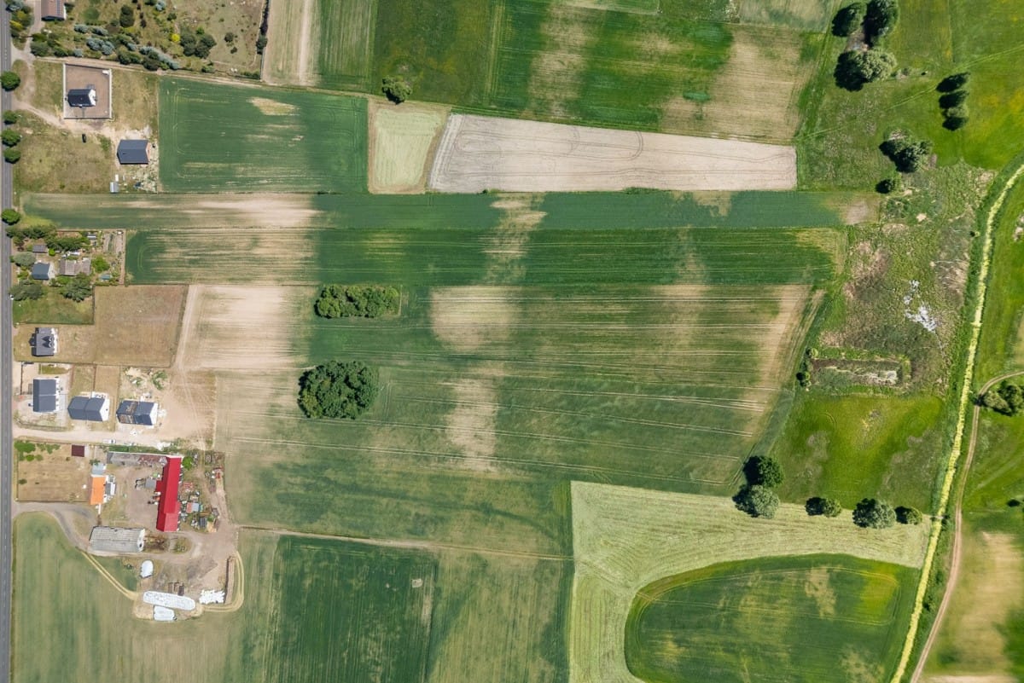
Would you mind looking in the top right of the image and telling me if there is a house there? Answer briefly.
No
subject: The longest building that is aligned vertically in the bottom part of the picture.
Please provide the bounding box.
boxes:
[158,455,189,537]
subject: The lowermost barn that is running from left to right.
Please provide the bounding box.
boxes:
[89,525,145,553]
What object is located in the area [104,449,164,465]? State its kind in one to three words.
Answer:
shed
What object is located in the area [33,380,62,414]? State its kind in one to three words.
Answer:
house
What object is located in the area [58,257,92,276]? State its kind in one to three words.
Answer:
building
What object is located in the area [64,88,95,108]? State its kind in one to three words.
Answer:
house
